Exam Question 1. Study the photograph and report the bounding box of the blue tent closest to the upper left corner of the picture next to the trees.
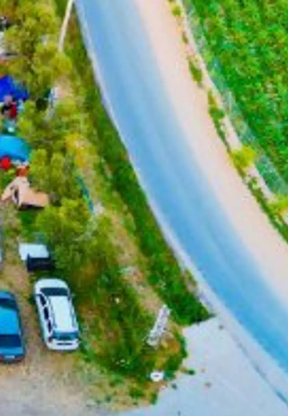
[0,76,28,104]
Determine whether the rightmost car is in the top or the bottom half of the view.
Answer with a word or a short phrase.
bottom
